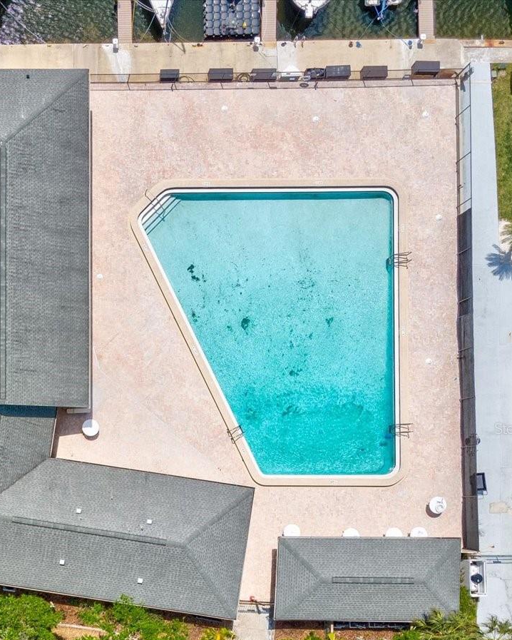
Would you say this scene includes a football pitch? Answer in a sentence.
No, no football pitch is visible in the scene.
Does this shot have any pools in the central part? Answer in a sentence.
Yes, in the central part there is a pool.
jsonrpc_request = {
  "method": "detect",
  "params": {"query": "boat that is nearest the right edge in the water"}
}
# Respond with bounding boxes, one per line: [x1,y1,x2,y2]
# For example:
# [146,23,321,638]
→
[363,0,397,25]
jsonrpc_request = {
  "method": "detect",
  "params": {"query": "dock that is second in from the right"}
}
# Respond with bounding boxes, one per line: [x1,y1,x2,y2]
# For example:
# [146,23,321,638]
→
[254,0,282,41]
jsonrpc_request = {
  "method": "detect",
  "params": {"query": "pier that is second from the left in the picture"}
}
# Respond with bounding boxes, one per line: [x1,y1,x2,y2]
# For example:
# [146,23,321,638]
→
[203,0,258,38]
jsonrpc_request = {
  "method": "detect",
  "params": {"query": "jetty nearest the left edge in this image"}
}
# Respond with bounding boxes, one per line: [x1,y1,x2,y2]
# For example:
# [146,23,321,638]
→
[112,0,137,42]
